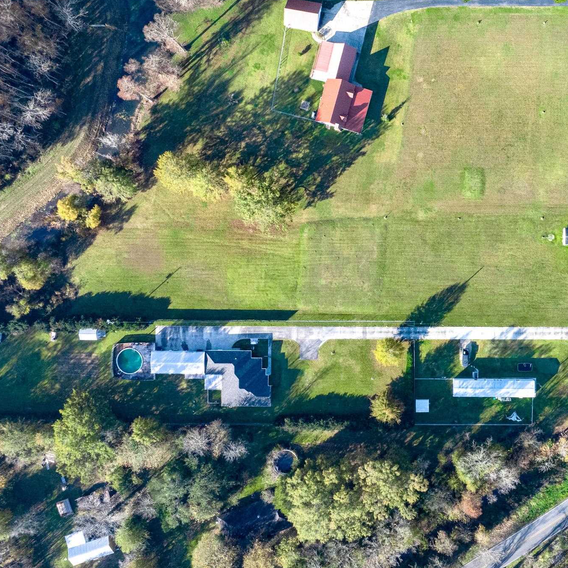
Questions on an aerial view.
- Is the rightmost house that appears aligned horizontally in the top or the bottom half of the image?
bottom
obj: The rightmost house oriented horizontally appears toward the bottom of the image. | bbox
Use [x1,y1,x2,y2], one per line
[453,372,536,401]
